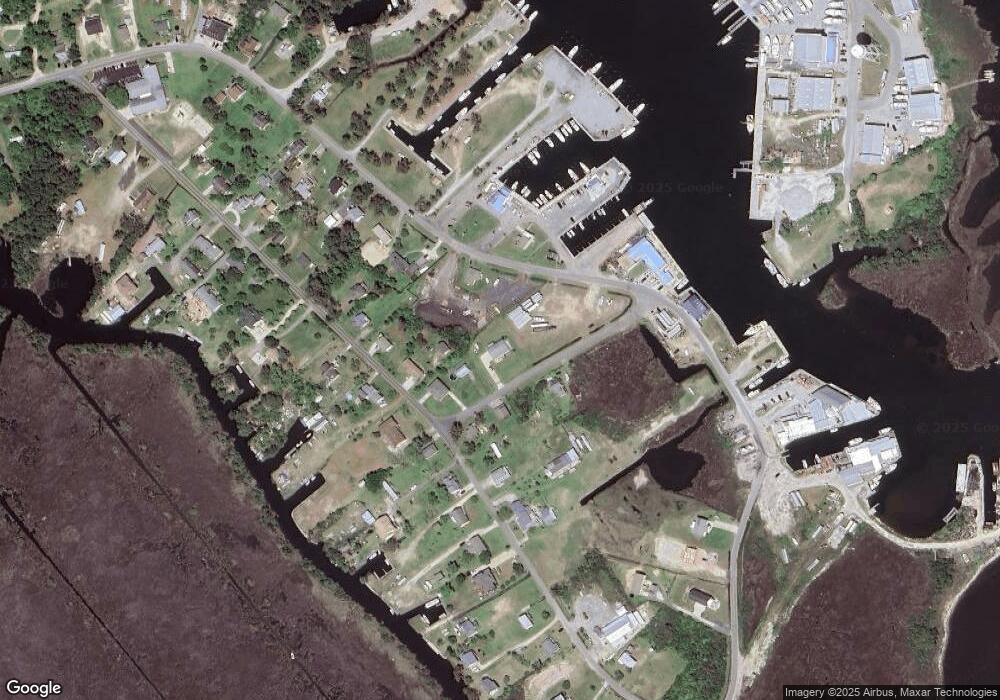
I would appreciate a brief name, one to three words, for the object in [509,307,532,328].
building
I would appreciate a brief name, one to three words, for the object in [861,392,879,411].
boat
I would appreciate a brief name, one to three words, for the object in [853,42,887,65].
water tower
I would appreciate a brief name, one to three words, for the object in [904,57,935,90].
shed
